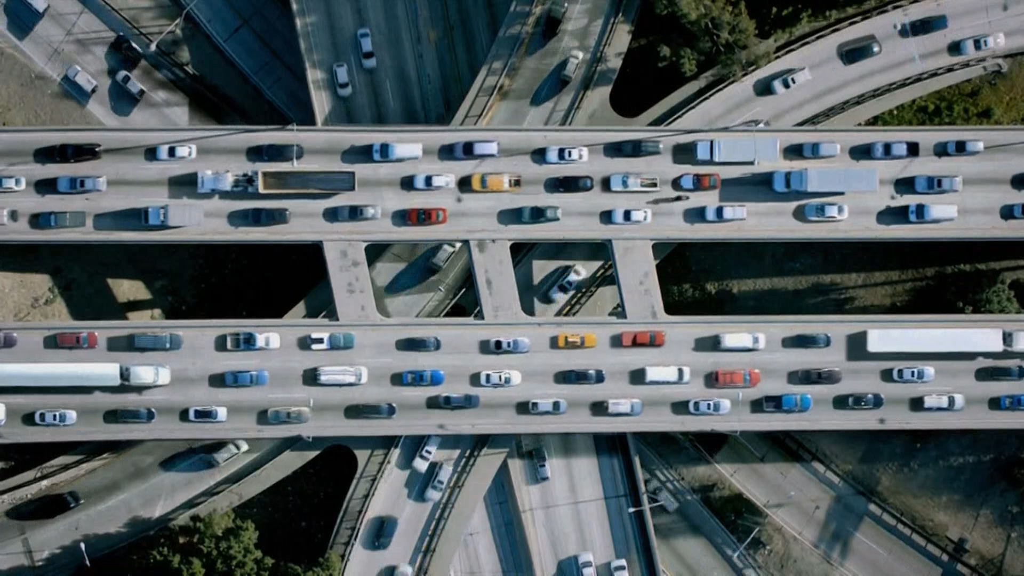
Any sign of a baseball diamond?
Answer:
No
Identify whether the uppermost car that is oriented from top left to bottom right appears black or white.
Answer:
black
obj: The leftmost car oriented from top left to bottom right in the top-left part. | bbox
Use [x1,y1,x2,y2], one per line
[65,63,101,98]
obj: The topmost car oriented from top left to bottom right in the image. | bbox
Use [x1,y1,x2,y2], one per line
[110,32,145,65]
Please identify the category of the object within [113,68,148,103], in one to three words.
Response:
car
